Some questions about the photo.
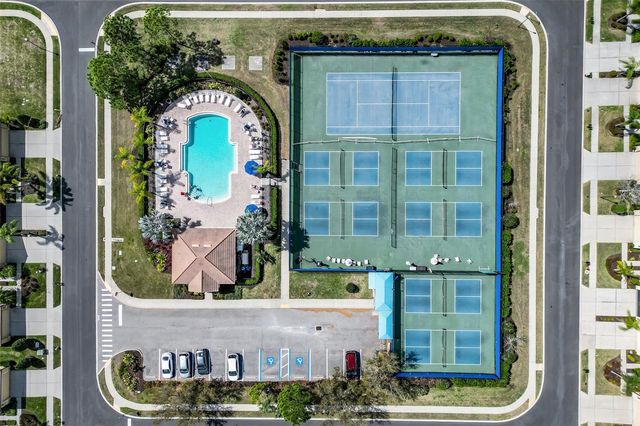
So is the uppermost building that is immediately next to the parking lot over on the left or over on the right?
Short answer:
left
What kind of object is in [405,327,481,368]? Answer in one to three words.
sports court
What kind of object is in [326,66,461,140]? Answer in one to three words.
tennis court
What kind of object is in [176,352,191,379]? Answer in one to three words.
car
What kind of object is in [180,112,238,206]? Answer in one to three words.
swimming pool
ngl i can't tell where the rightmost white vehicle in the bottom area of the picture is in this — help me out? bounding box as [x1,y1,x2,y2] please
[226,353,239,382]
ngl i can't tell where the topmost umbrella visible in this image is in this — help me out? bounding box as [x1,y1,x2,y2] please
[244,160,261,176]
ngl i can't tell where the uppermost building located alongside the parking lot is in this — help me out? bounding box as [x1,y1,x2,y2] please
[171,228,236,293]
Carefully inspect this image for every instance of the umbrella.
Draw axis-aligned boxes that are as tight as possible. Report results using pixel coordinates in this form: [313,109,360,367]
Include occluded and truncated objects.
[244,160,261,176]
[245,202,260,214]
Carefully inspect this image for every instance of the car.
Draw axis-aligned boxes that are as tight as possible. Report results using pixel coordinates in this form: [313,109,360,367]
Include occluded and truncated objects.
[159,352,172,380]
[194,349,209,377]
[345,351,358,380]
[226,353,239,382]
[176,352,191,379]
